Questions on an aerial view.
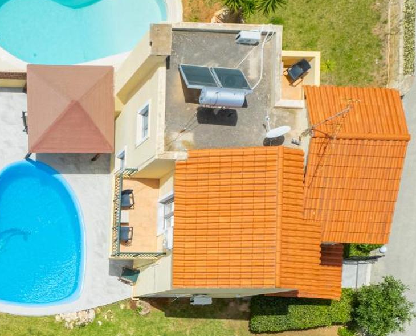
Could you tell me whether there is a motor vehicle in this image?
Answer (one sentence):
No, the scene contains no motor vehicle.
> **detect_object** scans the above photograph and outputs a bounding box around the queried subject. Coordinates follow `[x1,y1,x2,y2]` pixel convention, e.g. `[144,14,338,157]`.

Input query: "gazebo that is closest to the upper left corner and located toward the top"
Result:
[23,63,115,161]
